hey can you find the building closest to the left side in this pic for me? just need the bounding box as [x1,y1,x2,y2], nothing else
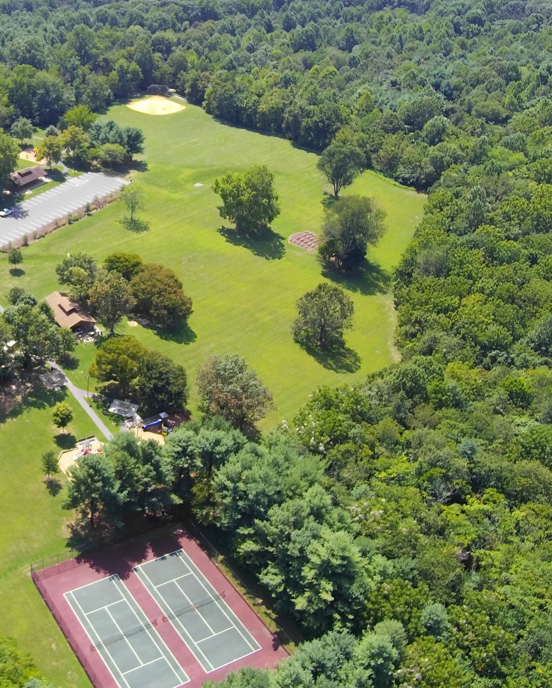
[8,165,53,191]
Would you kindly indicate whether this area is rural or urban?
rural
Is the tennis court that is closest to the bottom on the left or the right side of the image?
left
